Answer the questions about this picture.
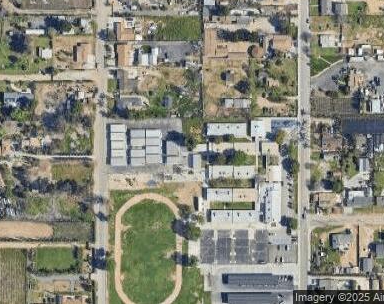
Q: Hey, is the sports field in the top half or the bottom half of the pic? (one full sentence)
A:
The sports field is in the bottom half of the image.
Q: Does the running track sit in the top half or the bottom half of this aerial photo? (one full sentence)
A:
Seen from above, the running track lies in the bottom half of the view.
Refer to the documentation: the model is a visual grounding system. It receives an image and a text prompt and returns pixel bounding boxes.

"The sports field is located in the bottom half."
[121,198,177,304]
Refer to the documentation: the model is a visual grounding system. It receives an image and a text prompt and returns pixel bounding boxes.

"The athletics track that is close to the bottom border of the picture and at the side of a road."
[114,193,183,304]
